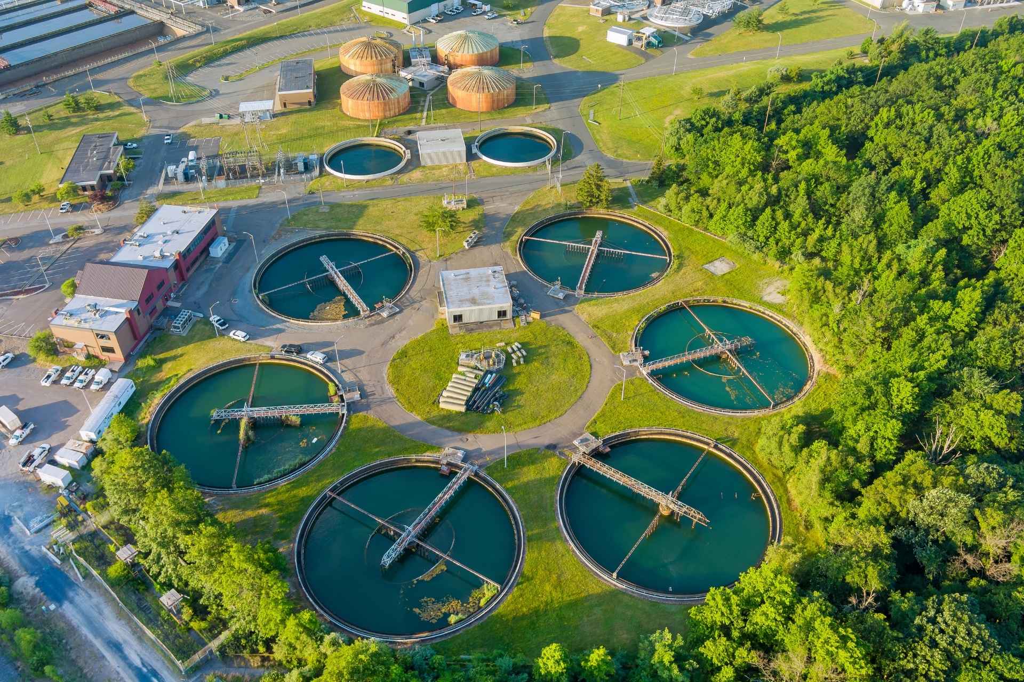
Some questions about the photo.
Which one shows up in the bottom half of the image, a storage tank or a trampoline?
storage tank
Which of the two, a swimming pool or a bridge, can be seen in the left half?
bridge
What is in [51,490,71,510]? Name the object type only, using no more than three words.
work vehicle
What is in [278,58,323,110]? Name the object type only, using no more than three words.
building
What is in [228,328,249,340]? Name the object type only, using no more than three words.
vehicle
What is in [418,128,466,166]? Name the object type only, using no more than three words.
shed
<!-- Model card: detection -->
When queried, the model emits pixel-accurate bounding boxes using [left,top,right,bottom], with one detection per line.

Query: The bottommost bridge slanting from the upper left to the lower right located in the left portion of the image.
[321,253,371,322]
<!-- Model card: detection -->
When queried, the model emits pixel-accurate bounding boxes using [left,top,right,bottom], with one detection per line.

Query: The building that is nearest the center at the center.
[438,265,516,338]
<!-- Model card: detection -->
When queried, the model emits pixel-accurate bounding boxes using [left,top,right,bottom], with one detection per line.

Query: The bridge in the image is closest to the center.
[576,230,602,300]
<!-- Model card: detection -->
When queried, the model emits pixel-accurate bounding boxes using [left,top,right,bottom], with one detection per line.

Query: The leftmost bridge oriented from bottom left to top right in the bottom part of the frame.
[382,456,481,566]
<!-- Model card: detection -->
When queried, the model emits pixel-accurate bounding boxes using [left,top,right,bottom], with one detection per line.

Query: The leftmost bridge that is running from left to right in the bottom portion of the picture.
[213,402,351,419]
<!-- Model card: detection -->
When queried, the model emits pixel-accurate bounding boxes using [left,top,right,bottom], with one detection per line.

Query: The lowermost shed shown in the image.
[159,589,184,618]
